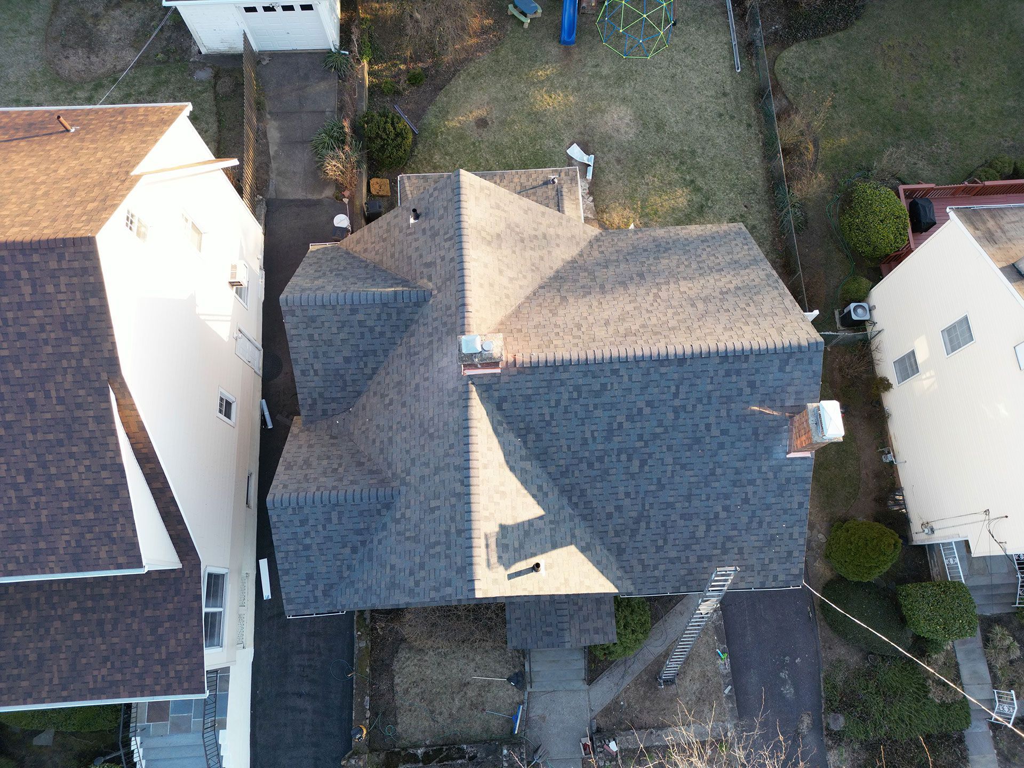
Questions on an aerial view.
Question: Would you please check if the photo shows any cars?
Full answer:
No, the scene contains no car.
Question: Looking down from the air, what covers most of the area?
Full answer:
What you mostly see from above here is buildings.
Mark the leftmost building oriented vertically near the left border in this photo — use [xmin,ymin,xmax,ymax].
[0,105,267,768]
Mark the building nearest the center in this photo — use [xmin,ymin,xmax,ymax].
[263,165,851,694]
